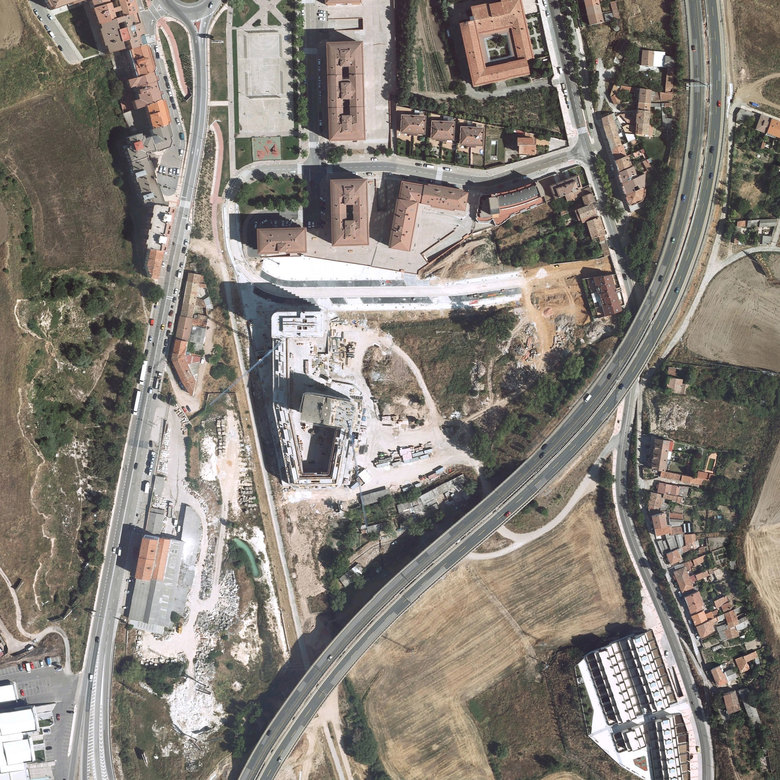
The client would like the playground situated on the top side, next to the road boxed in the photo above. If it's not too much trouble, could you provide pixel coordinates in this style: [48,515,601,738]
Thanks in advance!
[251,136,281,160]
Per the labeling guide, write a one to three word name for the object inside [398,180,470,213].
building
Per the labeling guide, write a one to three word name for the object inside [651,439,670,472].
house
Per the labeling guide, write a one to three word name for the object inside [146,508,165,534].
shed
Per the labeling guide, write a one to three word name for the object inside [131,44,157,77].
house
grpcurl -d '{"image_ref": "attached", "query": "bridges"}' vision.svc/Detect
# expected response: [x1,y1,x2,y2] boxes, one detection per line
[238,0,726,780]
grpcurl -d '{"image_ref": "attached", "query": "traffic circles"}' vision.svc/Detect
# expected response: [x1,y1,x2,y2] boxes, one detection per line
[165,0,225,21]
